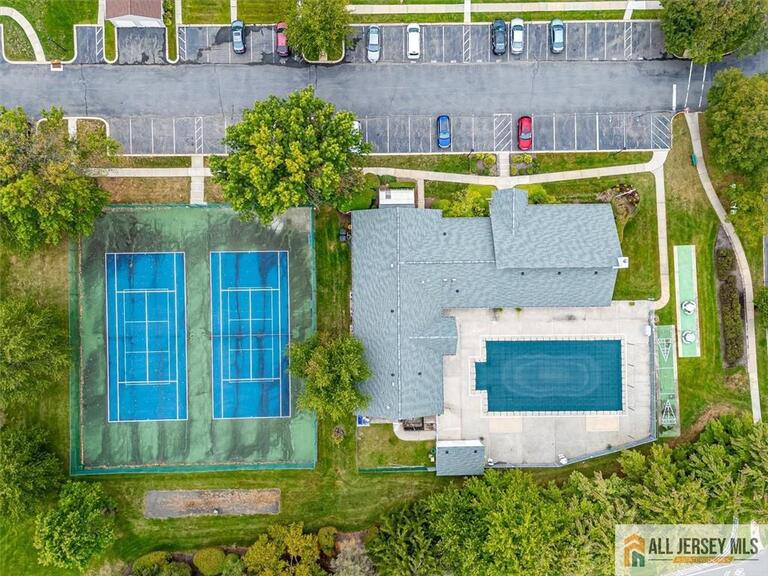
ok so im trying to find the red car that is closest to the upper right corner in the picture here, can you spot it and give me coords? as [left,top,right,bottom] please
[516,116,533,152]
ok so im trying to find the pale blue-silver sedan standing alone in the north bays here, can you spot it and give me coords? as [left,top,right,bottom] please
[548,21,566,56]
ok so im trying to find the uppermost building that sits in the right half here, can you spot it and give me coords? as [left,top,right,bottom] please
[352,188,629,421]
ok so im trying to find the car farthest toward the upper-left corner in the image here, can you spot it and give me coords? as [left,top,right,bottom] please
[230,22,248,56]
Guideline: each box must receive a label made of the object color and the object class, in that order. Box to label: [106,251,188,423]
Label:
blue tennis court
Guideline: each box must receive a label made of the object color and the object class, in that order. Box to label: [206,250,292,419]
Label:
blue tennis court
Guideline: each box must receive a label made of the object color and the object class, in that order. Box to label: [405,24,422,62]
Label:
white car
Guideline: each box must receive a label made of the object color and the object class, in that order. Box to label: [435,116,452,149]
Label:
blue car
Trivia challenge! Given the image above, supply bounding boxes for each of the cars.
[365,26,382,64]
[435,116,452,149]
[508,21,526,56]
[405,24,422,62]
[490,22,508,57]
[274,24,290,58]
[230,22,248,56]
[516,116,533,152]
[548,21,566,56]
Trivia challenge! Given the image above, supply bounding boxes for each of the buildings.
[105,0,166,28]
[436,440,484,475]
[352,188,629,421]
